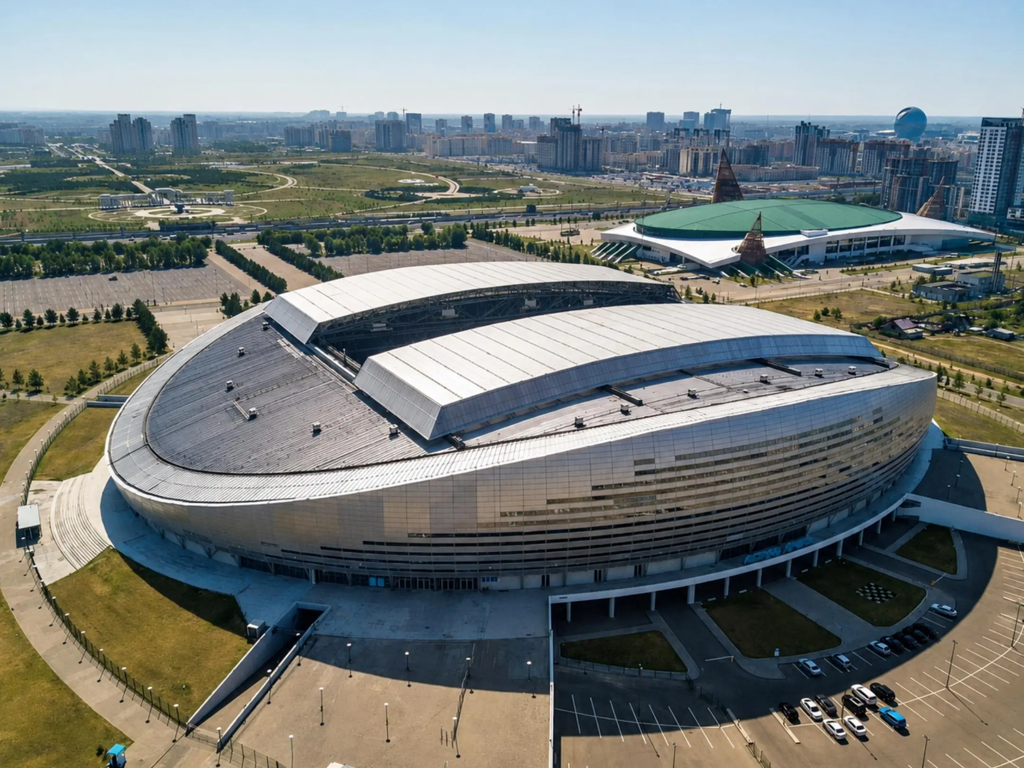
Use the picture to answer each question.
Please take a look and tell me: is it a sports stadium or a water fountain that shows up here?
sports stadium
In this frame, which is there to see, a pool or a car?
car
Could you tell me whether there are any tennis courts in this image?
No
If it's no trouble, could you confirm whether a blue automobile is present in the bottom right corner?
Yes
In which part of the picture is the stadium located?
center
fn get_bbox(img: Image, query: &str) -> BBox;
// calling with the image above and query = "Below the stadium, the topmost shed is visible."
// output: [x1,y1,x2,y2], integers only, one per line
[245,616,265,638]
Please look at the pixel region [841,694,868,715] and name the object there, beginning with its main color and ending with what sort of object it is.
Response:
black car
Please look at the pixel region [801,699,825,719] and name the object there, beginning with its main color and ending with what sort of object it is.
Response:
white car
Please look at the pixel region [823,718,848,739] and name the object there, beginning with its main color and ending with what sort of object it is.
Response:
white car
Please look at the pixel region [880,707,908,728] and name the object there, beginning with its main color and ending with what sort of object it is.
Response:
blue car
